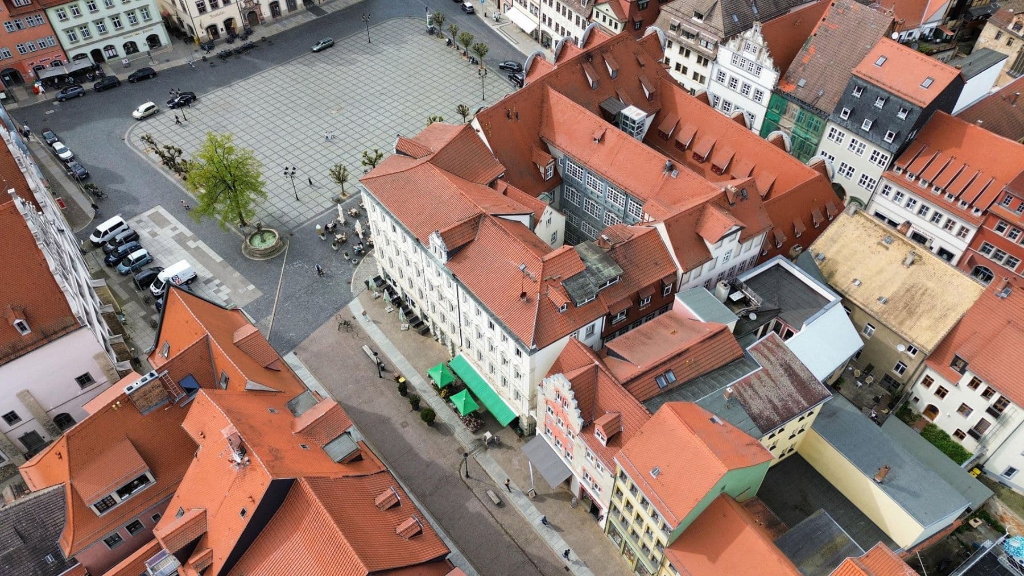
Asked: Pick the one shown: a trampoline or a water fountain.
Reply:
water fountain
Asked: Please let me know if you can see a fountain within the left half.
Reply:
Yes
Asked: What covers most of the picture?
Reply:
buildings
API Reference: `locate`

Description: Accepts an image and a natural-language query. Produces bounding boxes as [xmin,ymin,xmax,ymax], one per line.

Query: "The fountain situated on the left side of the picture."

[242,222,285,260]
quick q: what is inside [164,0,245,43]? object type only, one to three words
house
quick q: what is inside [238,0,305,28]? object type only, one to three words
house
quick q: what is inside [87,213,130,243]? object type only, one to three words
van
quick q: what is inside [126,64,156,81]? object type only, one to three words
car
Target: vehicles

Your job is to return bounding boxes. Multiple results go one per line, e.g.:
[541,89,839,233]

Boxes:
[102,239,141,265]
[310,34,335,50]
[166,91,196,107]
[49,140,73,159]
[91,73,121,91]
[128,264,165,289]
[498,60,524,72]
[87,213,130,243]
[115,251,151,276]
[39,124,60,143]
[54,80,85,99]
[131,101,159,118]
[99,226,139,252]
[148,260,197,297]
[126,64,156,81]
[508,73,525,88]
[62,155,88,177]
